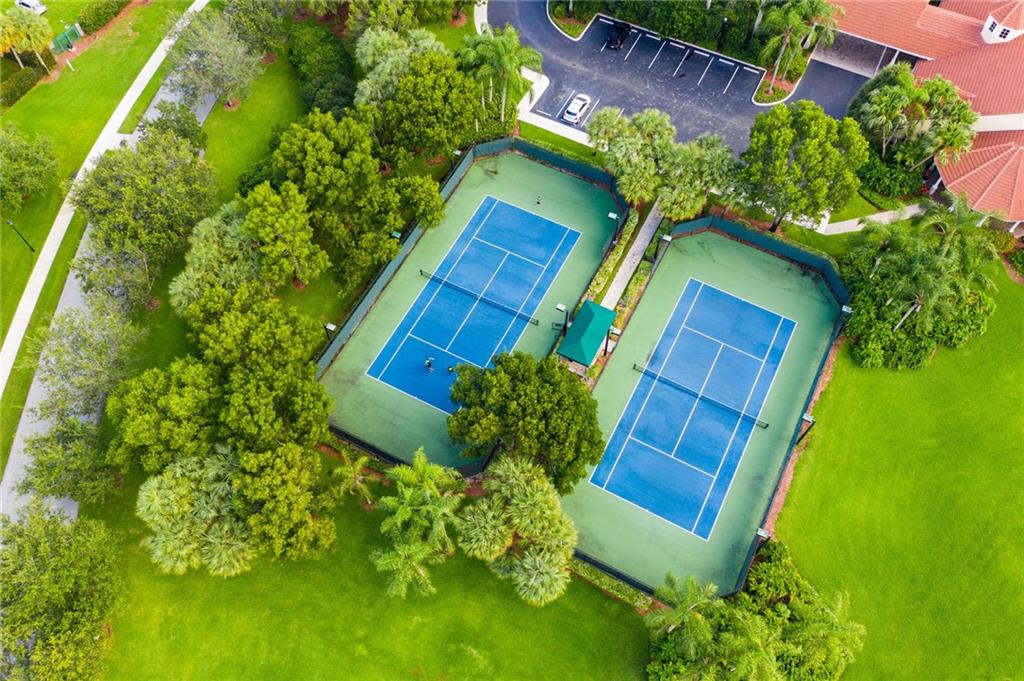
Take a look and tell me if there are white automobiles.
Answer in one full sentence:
Yes, a white automobile appears in the view.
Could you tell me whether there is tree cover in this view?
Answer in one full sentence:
Yes, tree cover can be seen from above here.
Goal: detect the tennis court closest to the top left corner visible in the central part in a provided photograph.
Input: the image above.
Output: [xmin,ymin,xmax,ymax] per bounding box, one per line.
[312,149,631,493]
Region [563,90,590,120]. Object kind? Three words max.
car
